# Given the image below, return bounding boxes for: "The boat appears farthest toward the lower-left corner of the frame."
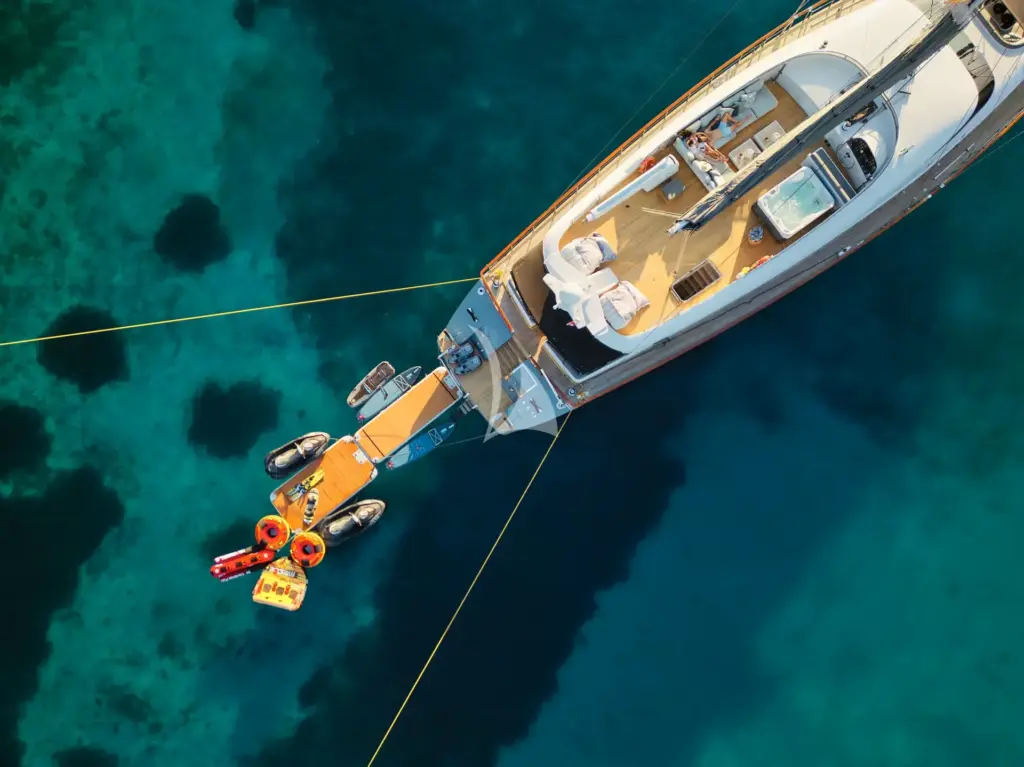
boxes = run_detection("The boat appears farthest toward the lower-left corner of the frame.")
[208,548,272,581]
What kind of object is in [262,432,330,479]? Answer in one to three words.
boat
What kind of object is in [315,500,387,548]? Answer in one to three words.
boat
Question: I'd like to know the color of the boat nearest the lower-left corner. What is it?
red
